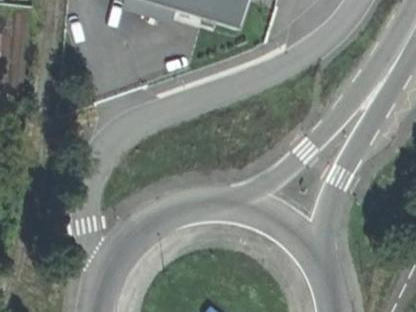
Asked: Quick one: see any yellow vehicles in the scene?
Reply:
No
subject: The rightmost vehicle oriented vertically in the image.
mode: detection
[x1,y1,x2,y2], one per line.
[107,0,123,28]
